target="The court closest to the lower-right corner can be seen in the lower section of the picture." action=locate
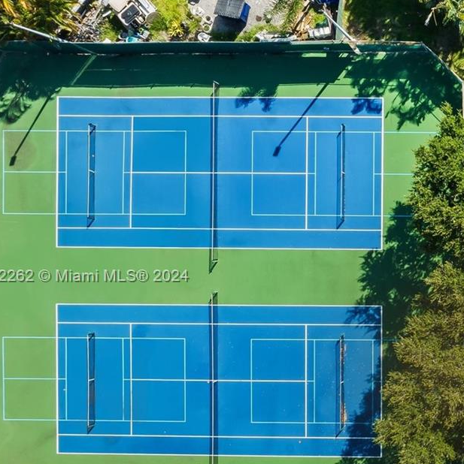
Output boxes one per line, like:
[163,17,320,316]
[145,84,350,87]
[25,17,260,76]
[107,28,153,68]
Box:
[249,338,433,424]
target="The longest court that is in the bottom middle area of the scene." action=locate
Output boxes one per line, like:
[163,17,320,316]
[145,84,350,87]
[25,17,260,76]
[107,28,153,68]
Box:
[56,304,383,458]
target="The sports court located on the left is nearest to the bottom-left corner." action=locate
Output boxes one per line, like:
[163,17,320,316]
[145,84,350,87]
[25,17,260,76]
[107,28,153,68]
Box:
[2,337,187,422]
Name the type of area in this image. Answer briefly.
sports ground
